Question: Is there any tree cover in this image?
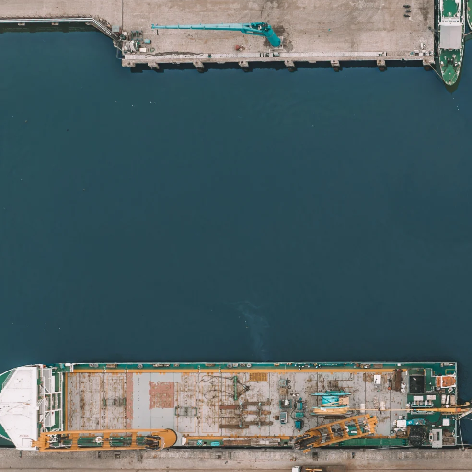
No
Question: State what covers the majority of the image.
water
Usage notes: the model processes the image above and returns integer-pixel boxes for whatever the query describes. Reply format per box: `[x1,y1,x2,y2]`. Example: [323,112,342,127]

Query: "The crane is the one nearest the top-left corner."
[151,19,283,52]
